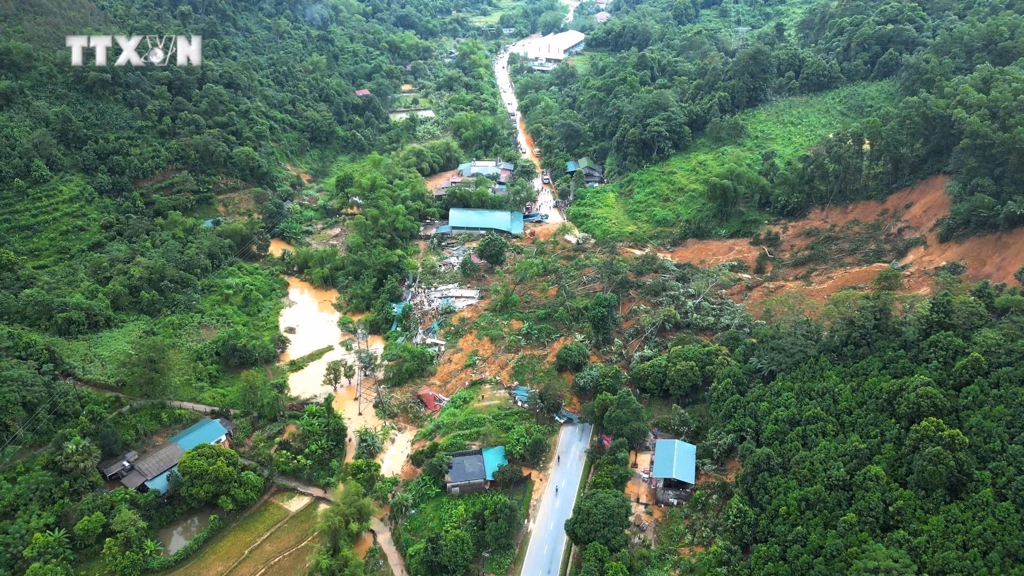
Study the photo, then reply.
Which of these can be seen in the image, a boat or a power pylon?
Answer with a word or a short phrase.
power pylon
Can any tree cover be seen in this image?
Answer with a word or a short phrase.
Yes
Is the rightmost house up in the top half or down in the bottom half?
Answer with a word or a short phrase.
bottom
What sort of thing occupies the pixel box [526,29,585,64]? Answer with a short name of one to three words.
building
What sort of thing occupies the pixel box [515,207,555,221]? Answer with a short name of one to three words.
vehicle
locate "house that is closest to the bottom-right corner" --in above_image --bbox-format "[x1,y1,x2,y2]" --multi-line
[651,439,696,504]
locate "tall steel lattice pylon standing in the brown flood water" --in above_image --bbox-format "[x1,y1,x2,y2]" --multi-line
[335,323,384,415]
